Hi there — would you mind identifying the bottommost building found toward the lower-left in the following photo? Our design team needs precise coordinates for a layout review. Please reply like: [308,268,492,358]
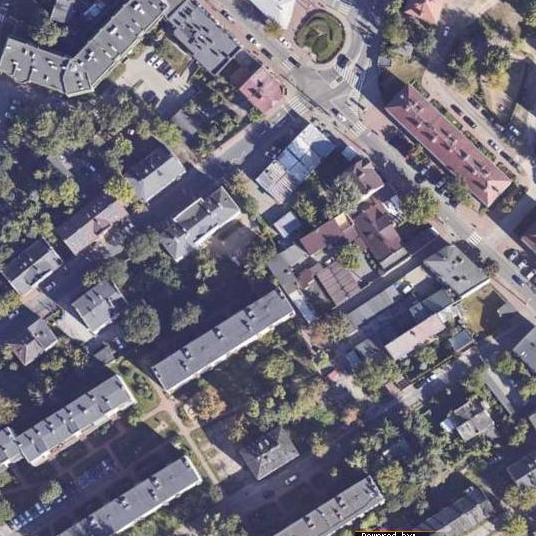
[59,456,204,536]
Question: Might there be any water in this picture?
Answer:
No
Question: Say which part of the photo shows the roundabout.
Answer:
top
